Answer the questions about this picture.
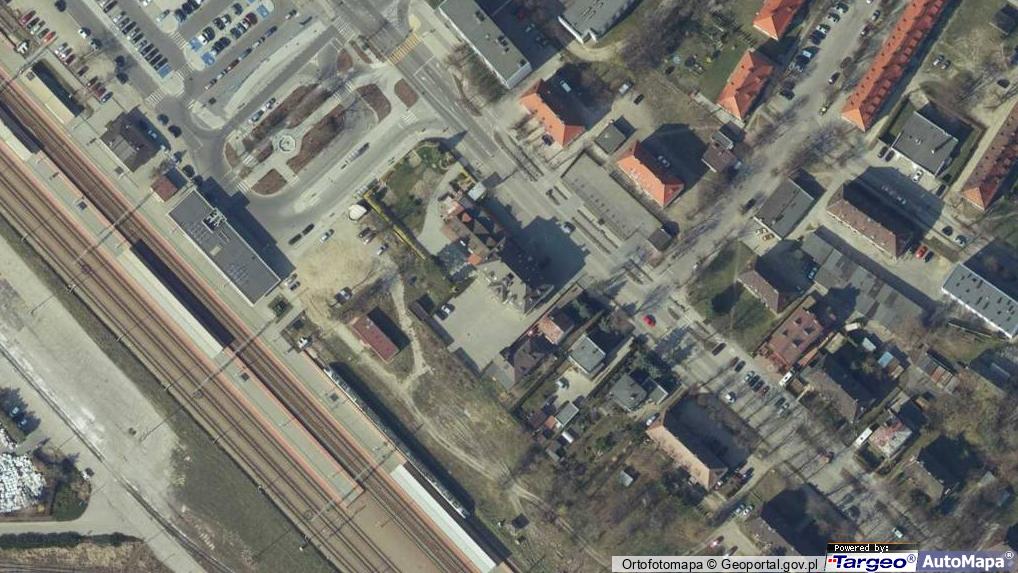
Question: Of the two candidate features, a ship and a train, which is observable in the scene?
train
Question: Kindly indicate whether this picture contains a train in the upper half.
No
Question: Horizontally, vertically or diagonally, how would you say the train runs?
diagonally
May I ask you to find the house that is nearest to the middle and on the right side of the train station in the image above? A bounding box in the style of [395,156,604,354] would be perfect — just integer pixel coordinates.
[477,254,553,316]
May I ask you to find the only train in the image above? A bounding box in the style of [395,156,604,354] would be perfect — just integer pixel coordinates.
[326,366,467,515]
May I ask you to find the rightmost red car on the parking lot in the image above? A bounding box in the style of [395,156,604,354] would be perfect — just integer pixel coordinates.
[915,245,928,260]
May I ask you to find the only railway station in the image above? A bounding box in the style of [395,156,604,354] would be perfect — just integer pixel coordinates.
[169,191,280,304]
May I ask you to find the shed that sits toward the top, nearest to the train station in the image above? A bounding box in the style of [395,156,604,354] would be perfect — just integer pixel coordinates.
[152,174,179,203]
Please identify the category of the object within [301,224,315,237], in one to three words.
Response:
vehicle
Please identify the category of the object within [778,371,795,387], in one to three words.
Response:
vehicle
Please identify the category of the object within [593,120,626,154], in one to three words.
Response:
building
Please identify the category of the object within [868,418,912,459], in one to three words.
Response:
house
